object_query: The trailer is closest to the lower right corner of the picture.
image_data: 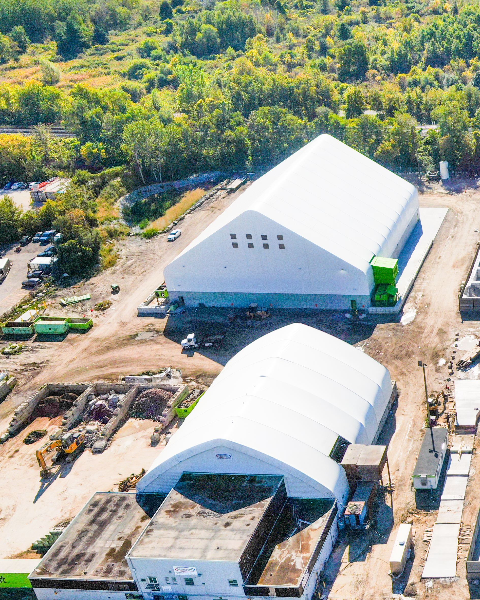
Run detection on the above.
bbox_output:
[390,524,413,585]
